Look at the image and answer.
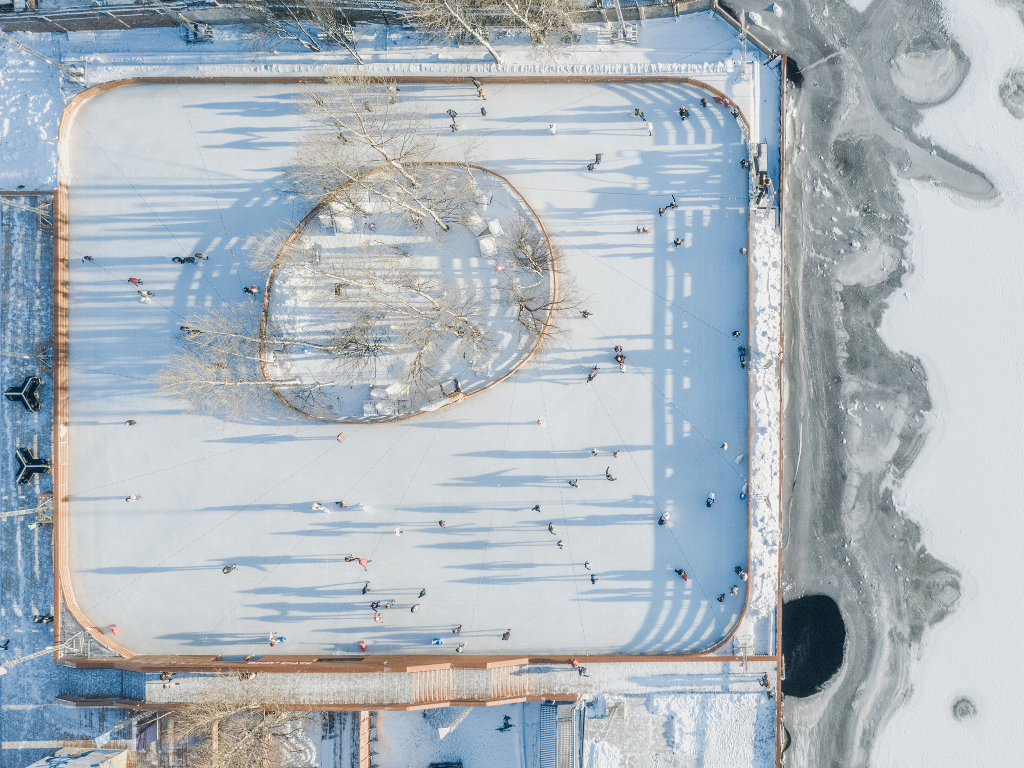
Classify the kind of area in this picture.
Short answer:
sports ground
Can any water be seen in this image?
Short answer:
Yes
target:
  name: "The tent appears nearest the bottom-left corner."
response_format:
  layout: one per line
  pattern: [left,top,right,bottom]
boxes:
[16,446,51,483]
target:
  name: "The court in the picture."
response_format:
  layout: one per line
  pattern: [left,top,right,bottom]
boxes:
[66,83,750,655]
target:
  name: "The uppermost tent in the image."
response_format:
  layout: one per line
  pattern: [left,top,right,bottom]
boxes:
[3,376,49,410]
